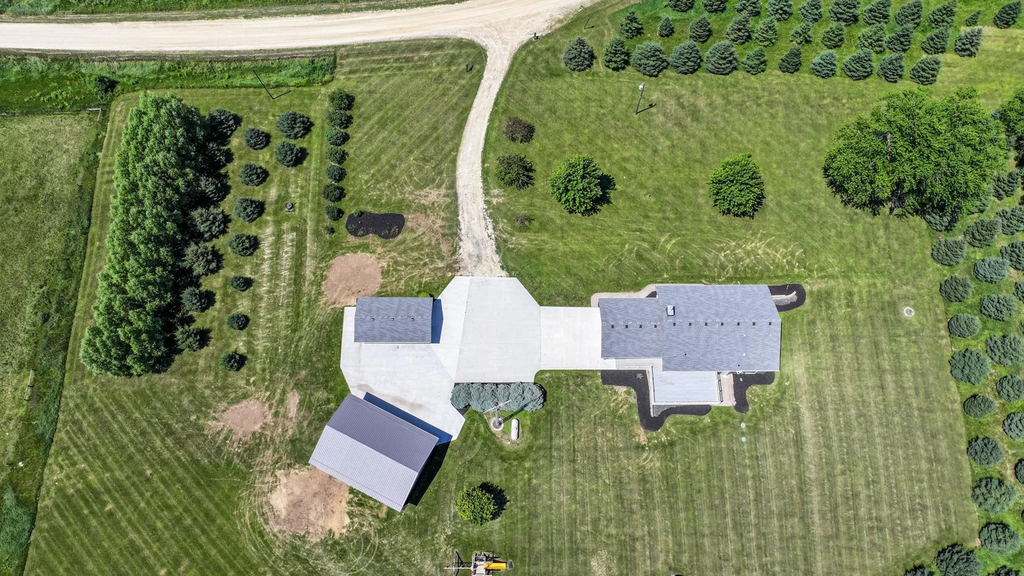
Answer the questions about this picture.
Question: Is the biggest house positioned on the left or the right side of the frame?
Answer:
right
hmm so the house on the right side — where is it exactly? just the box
[599,284,781,372]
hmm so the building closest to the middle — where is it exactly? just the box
[354,297,433,345]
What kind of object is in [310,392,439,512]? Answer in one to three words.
barn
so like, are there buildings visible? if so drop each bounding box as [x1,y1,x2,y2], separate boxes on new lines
[354,297,433,345]
[599,284,781,372]
[310,392,439,512]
